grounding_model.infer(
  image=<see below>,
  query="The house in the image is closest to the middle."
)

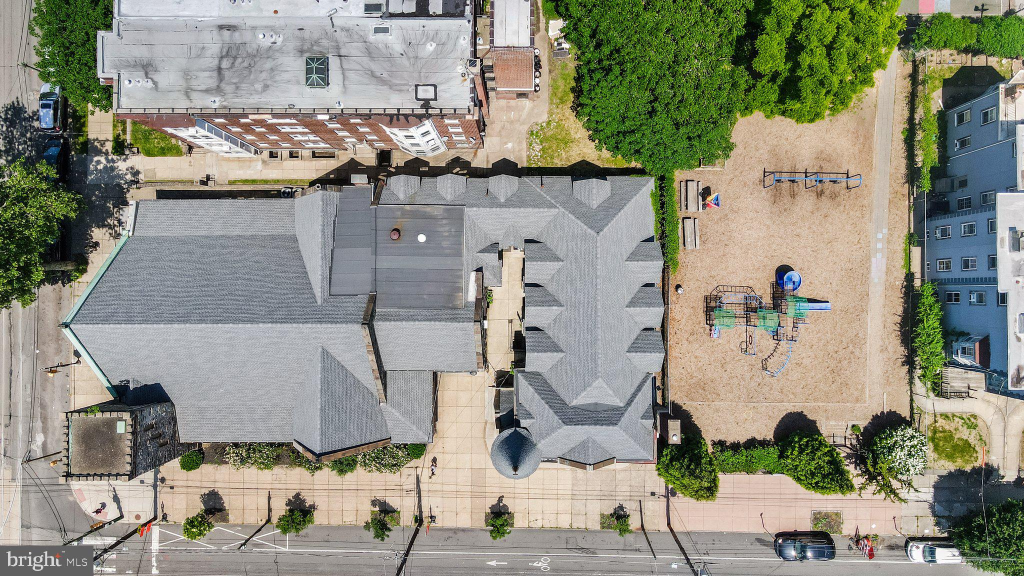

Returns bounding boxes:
[385,172,682,476]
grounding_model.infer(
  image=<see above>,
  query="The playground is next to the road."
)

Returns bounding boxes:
[668,45,915,445]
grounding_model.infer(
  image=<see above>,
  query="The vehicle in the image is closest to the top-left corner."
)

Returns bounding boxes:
[36,84,70,138]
